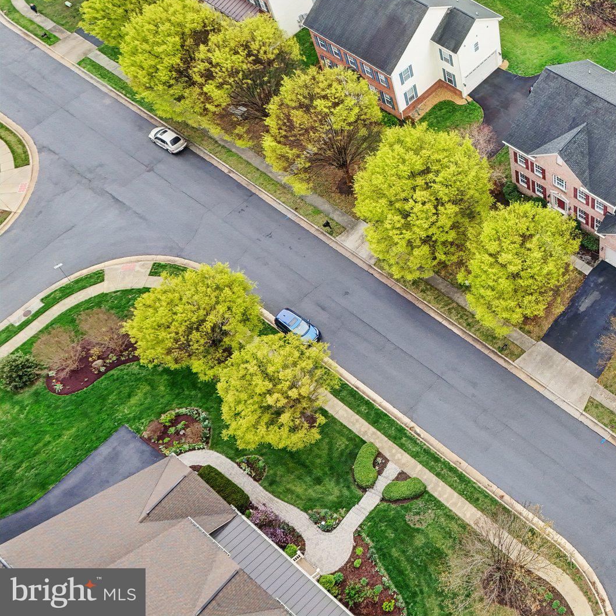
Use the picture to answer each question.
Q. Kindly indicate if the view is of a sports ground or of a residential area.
residential area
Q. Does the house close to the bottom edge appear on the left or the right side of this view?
left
